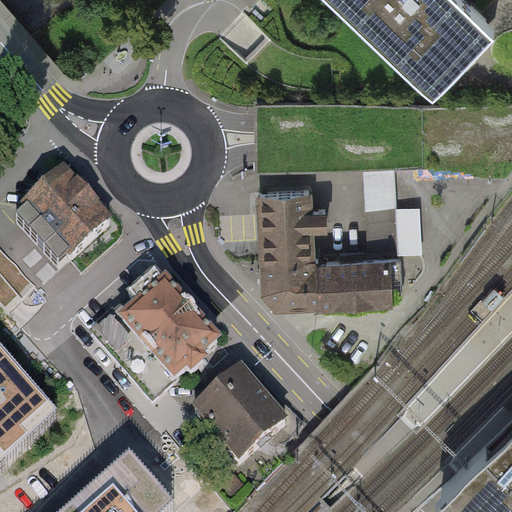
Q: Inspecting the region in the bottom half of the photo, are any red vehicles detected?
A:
Yes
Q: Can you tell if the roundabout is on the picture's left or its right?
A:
left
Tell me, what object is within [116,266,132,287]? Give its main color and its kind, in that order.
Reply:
black car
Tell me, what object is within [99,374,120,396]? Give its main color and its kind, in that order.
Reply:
black car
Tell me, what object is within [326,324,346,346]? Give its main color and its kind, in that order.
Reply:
white car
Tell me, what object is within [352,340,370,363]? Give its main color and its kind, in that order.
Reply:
white car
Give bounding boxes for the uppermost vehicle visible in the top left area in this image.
[120,115,138,135]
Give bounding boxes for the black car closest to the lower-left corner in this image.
[38,466,60,488]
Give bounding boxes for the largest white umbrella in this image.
[131,359,145,372]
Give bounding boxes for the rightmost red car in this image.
[116,396,136,417]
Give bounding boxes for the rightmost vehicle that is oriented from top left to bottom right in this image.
[253,338,274,360]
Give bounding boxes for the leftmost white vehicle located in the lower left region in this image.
[26,474,50,499]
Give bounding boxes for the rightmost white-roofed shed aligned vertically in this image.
[397,208,423,261]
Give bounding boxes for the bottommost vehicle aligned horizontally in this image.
[169,385,193,397]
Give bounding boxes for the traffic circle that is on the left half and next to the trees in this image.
[60,86,254,254]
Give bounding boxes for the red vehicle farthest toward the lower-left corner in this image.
[12,486,34,510]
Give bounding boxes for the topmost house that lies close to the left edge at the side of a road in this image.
[16,160,112,264]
